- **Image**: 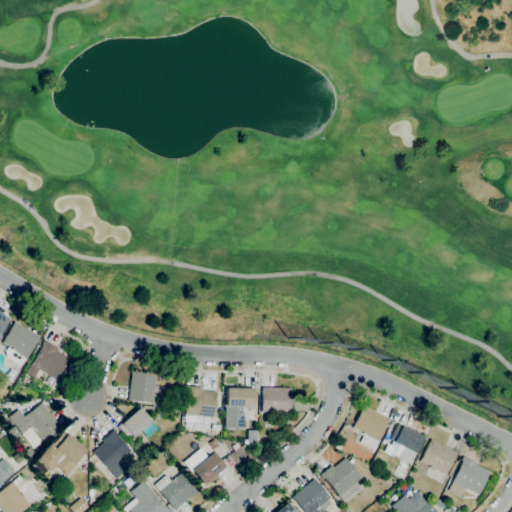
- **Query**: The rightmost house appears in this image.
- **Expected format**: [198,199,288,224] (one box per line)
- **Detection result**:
[453,456,492,499]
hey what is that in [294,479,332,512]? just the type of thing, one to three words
house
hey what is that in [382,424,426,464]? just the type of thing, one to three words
house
